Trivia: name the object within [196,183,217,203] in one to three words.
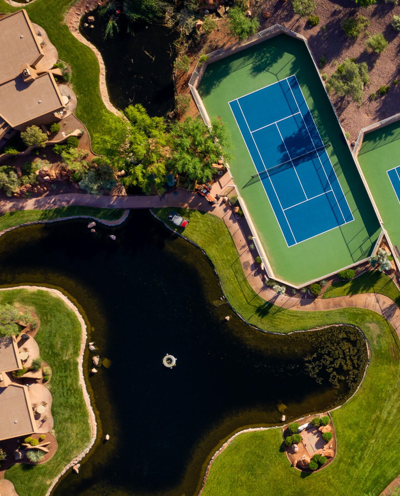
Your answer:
work vehicle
